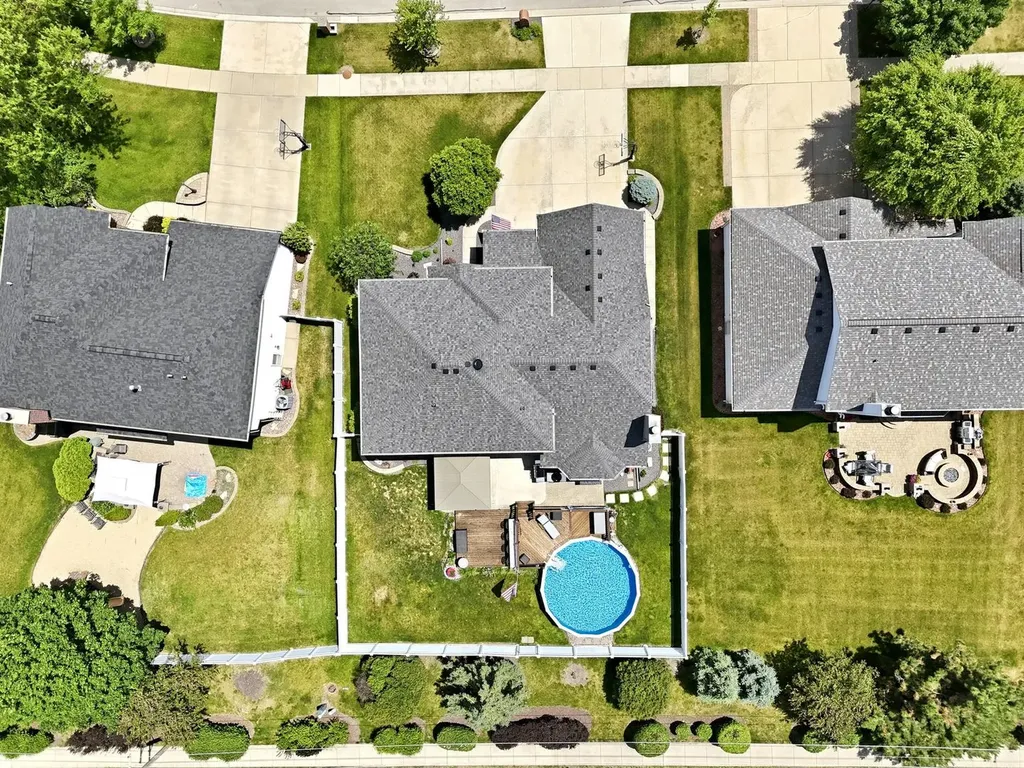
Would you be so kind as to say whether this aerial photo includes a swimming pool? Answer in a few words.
Yes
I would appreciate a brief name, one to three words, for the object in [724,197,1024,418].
house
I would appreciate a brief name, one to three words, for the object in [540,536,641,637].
swimming pool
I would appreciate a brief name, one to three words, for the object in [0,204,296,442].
house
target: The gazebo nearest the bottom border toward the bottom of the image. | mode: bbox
[433,456,493,510]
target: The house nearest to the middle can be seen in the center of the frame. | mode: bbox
[357,203,662,481]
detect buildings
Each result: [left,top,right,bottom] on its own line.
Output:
[357,203,662,481]
[724,197,1024,418]
[0,204,296,442]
